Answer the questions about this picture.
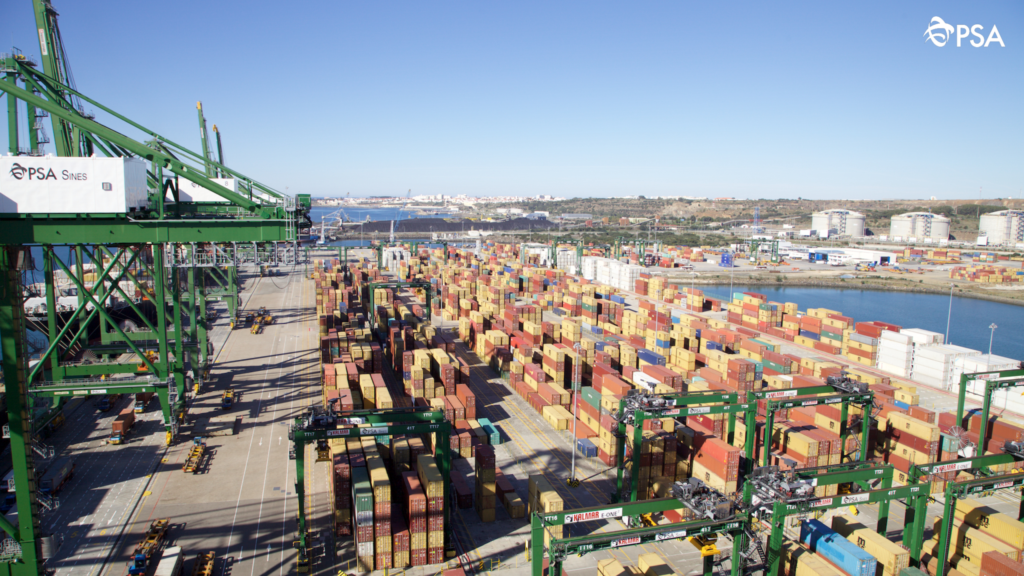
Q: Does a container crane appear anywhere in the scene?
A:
Yes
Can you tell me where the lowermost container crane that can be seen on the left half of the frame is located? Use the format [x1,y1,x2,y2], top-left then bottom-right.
[287,389,451,576]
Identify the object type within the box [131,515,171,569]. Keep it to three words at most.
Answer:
work vehicle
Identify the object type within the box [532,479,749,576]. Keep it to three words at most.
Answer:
container crane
